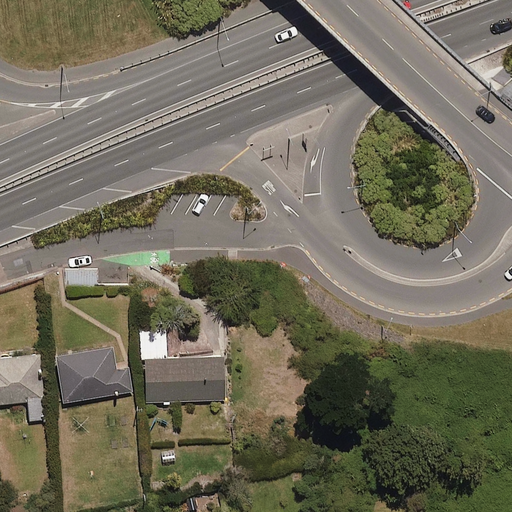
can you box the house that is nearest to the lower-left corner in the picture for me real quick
[0,354,44,422]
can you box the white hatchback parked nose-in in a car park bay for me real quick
[192,194,208,216]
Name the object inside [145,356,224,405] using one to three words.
house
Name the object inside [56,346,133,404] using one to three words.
house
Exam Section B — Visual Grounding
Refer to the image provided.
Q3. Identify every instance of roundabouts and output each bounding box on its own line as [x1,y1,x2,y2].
[198,96,512,318]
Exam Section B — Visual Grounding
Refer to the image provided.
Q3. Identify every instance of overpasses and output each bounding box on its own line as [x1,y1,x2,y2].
[295,0,512,210]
